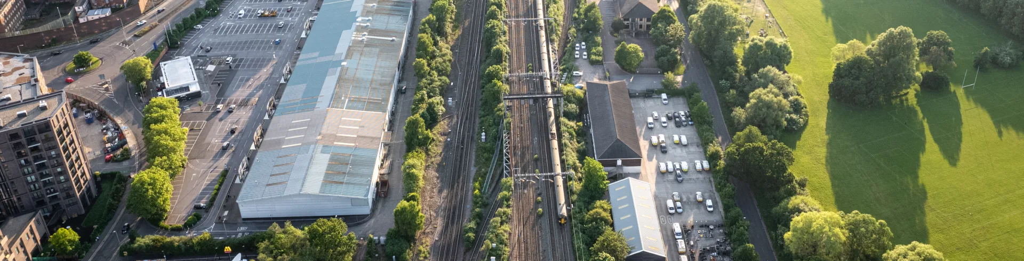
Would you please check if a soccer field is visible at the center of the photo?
No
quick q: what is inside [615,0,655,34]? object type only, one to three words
building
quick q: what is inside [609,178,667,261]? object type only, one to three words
shed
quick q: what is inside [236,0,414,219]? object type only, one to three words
warehouse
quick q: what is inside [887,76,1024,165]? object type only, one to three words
sports field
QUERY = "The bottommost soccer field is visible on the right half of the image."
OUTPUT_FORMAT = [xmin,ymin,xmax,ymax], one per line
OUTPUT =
[855,131,976,209]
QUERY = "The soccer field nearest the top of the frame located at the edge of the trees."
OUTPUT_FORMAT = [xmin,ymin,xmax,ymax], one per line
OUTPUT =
[832,0,983,43]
